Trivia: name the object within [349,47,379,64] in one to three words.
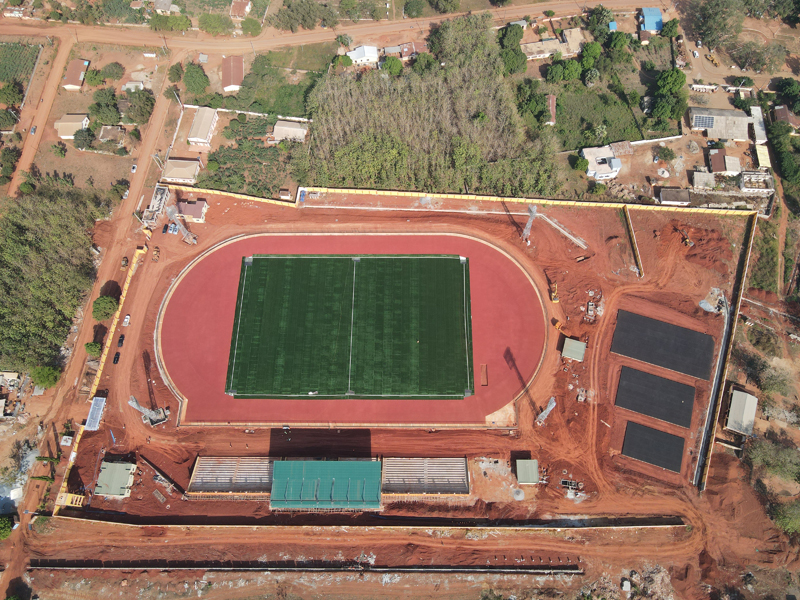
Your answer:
house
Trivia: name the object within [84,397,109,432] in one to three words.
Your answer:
building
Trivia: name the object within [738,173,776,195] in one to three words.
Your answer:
building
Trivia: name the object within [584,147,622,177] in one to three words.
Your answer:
house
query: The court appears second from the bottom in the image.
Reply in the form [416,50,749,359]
[615,366,695,429]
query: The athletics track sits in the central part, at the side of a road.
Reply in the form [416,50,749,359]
[152,230,554,433]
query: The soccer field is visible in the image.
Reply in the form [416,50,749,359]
[225,253,474,401]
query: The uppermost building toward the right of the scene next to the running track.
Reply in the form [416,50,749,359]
[561,338,587,365]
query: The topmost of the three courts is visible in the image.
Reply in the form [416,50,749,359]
[610,309,714,381]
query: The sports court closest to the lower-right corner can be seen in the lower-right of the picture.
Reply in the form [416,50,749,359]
[622,420,684,474]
